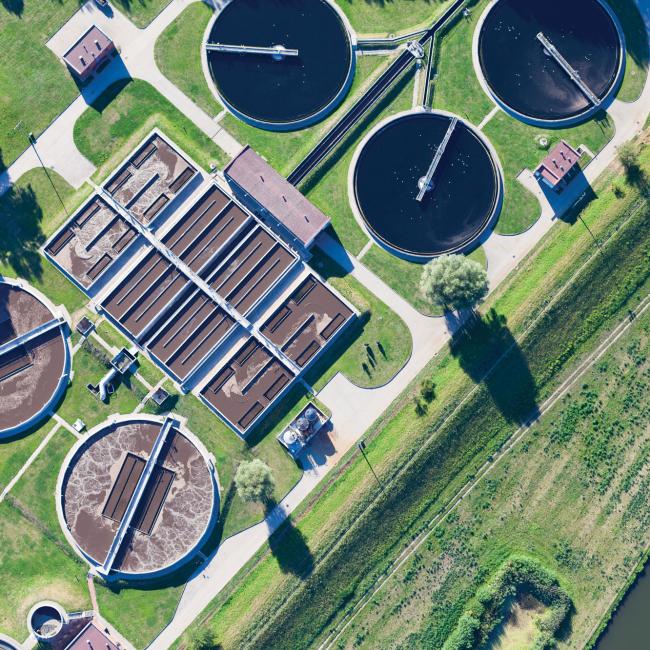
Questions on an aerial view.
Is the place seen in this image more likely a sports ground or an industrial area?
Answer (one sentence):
This image shows an industrial area.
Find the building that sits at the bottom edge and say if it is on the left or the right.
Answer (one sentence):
The building that sits at the bottom edge sits on the left side.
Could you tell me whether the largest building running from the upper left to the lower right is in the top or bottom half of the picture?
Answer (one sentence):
The top half of the photo is where the largest building running from the upper left to the lower right is.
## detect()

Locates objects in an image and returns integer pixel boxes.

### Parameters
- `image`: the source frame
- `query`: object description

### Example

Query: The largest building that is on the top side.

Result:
[223,145,332,251]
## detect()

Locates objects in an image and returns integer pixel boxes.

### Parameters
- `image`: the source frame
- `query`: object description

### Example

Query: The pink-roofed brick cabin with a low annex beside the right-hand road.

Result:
[531,141,582,193]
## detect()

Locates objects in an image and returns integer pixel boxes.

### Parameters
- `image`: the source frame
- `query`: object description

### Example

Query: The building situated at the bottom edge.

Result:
[65,616,125,650]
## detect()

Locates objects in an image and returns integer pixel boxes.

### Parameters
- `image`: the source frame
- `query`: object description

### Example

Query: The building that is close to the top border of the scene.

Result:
[63,23,116,80]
